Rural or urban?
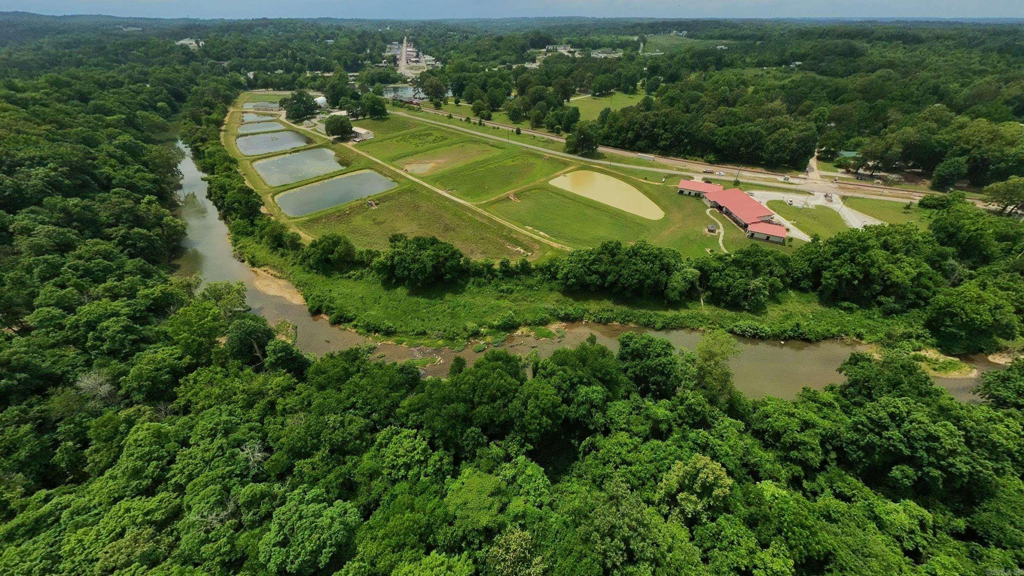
rural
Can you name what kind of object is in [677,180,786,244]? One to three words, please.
building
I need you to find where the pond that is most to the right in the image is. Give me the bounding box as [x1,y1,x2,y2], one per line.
[548,170,666,220]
